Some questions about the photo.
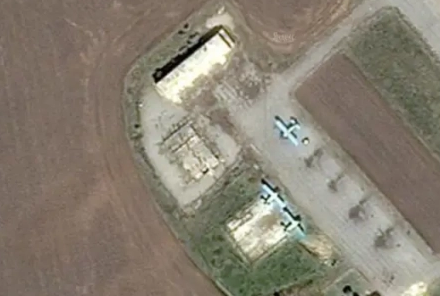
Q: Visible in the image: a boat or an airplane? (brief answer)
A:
airplane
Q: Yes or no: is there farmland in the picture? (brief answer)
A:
Yes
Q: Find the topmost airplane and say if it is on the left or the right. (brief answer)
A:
right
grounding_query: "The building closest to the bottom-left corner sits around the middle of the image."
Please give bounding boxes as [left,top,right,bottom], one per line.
[150,111,233,186]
